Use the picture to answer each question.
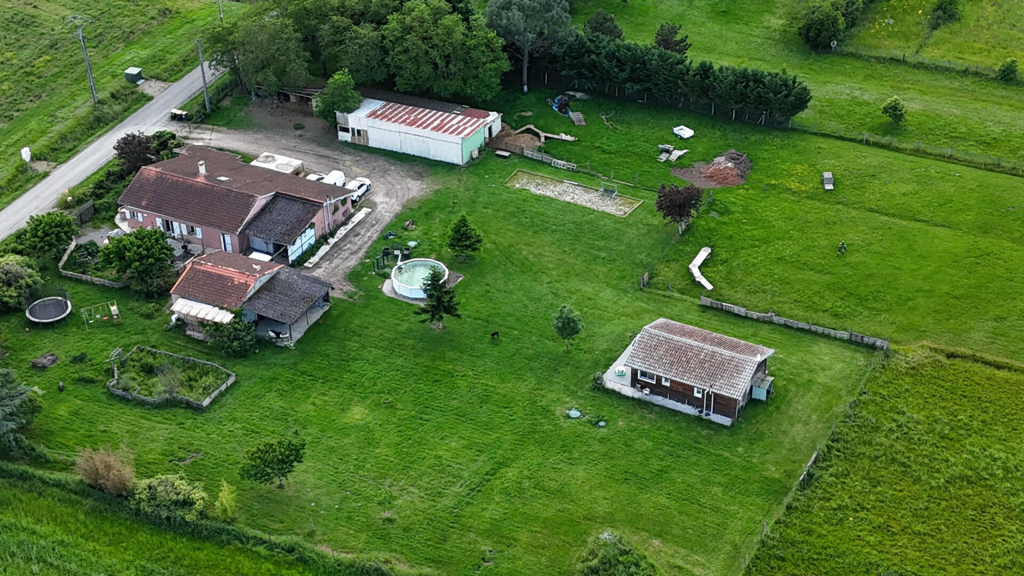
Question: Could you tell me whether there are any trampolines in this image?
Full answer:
Yes, the picture does show a trampoline.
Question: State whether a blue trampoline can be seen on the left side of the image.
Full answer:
No, there's no blue trampoline to be seen on the left side of the image.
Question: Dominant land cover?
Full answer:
The scene is dominated by grass.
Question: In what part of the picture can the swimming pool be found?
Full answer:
You can find the swimming pool in the center area of the picture.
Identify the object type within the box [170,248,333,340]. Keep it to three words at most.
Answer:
shed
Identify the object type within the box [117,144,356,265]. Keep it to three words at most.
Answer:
house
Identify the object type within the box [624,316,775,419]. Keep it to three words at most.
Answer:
building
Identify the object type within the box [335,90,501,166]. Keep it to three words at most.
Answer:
barn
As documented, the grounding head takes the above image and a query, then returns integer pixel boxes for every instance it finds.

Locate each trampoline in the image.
[21,282,74,330]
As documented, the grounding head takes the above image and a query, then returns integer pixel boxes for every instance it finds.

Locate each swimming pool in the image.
[390,258,450,300]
